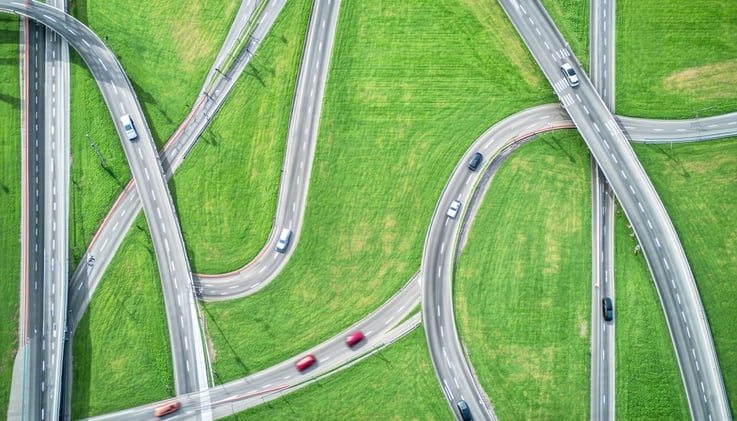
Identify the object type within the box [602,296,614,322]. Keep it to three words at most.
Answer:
vehicle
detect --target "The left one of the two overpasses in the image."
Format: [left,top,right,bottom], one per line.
[0,0,202,399]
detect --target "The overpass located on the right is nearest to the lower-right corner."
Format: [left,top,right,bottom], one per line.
[497,0,735,421]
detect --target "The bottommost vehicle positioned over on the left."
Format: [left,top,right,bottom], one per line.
[154,400,181,416]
